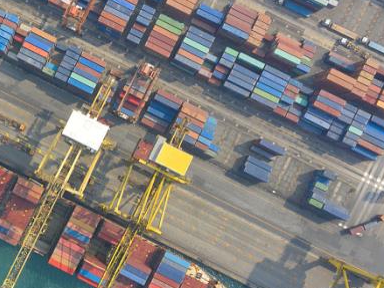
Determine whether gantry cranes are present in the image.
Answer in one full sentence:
Yes, I can see a gantry crane in this picture.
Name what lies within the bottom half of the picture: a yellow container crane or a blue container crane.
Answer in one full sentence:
What appears within the bottom half of the picture is a yellow container crane.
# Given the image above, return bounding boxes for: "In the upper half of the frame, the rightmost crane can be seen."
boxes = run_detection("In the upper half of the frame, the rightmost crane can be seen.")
[106,61,160,127]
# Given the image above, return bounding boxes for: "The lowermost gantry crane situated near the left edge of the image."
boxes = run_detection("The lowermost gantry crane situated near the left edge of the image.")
[1,79,119,288]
